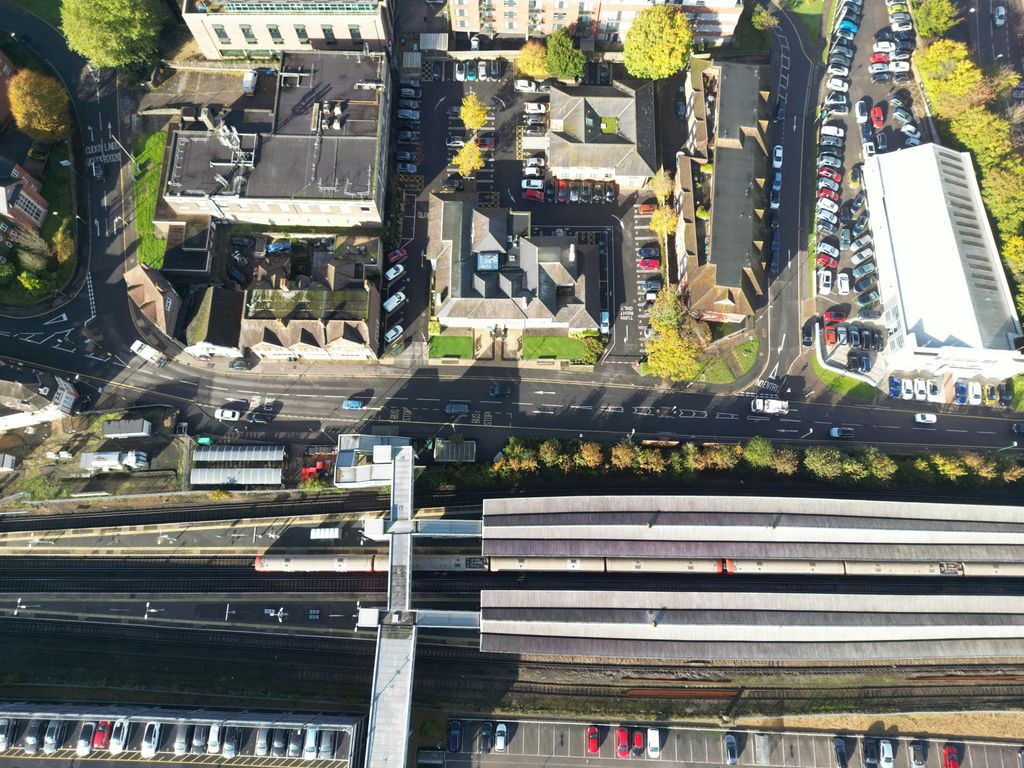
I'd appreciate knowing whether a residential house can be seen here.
Yes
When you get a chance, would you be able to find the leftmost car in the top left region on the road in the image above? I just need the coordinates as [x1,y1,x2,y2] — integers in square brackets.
[92,163,106,184]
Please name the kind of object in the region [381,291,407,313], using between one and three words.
vehicle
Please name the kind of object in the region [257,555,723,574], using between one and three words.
train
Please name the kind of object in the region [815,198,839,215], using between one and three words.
car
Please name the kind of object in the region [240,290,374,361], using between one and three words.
house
